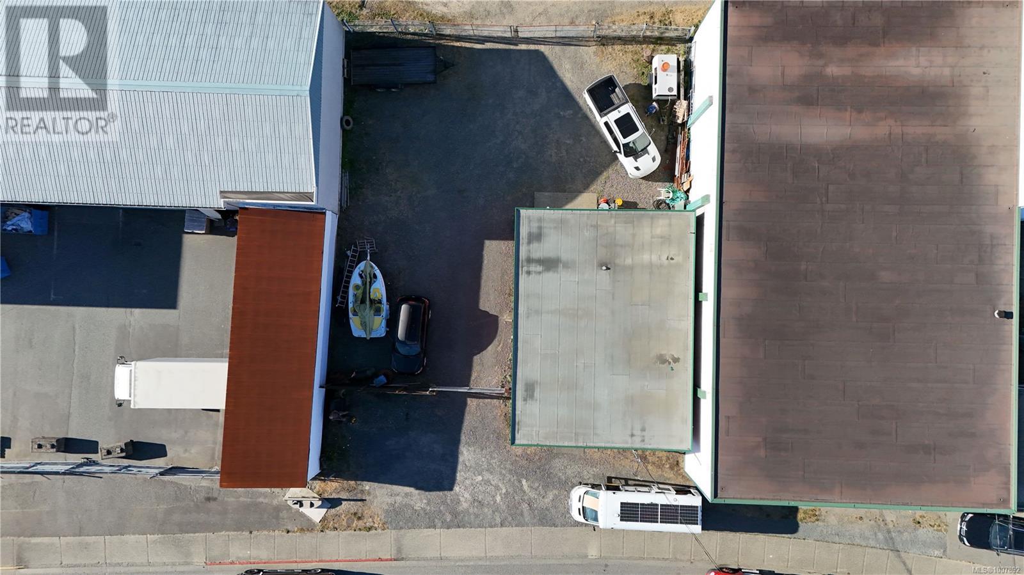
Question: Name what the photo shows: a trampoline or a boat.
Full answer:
There is a boat in the scene.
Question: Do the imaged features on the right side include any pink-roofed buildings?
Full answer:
No, looking on the right side, there is no pink-roofed building.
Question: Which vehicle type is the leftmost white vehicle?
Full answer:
Specifically, the leftmost white vehicle is a truck.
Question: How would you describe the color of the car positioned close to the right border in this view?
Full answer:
The color of the car positioned close to the right border is black.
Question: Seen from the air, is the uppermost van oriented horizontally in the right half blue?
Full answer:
No, the uppermost van oriented horizontally in the right half is actually white.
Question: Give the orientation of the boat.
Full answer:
The boat is oriented up and down.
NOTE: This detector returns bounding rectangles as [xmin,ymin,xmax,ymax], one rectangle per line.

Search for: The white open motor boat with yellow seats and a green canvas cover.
[346,259,388,342]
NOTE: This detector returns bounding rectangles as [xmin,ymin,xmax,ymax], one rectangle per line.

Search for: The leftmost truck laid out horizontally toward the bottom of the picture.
[117,354,229,410]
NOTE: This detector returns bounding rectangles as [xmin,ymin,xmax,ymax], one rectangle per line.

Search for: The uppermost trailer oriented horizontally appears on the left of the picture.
[349,44,460,92]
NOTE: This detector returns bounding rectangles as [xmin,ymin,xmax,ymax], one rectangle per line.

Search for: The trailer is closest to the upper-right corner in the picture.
[645,55,678,118]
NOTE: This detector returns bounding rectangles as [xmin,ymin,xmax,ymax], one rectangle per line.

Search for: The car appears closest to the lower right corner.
[955,510,1024,556]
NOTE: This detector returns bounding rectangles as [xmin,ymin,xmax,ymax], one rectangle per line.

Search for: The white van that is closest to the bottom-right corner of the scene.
[570,470,702,531]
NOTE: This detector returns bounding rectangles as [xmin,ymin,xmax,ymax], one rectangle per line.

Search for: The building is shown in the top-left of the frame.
[0,0,344,213]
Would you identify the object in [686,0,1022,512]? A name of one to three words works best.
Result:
warehouse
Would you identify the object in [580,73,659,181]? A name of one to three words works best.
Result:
truck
